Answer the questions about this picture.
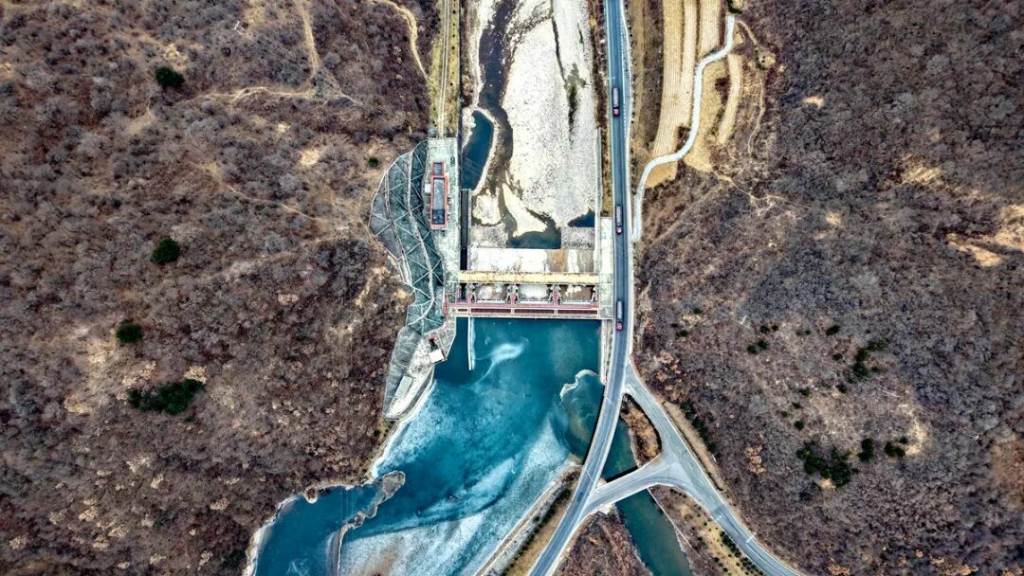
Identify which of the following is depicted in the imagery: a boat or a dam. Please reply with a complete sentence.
This aerial view contains a dam.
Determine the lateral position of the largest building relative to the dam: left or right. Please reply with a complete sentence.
From the viewer's perspective, the largest building falls to the left of the dam.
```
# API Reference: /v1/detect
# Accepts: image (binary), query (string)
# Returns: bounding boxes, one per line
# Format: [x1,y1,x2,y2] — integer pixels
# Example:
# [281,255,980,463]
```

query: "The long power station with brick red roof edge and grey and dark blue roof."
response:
[425,163,447,227]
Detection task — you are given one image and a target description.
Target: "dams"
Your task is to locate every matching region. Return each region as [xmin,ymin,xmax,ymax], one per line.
[445,190,613,370]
